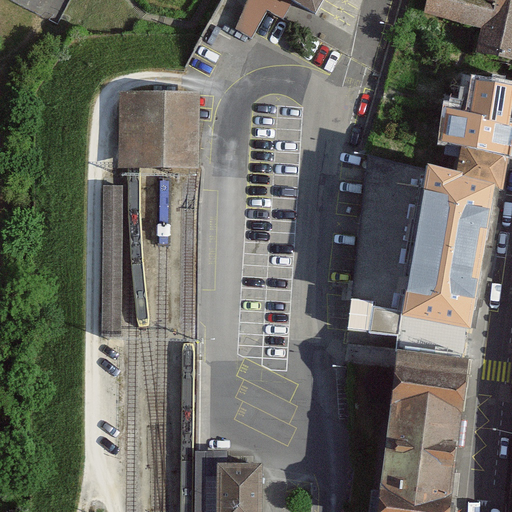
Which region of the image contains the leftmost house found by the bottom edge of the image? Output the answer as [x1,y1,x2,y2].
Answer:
[216,462,264,512]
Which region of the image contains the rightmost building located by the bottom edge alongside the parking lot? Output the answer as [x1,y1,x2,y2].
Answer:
[378,348,470,512]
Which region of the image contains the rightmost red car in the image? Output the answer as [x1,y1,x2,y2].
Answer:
[356,93,371,116]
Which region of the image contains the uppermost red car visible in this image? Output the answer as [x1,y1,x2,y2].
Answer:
[314,45,330,67]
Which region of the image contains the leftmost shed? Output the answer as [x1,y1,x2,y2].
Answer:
[102,185,124,335]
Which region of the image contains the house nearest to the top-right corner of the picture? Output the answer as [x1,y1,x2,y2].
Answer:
[424,0,512,60]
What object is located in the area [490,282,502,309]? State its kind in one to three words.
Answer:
vehicle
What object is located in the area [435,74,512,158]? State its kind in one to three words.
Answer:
house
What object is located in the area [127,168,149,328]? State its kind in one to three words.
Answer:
train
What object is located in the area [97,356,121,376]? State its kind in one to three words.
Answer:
car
